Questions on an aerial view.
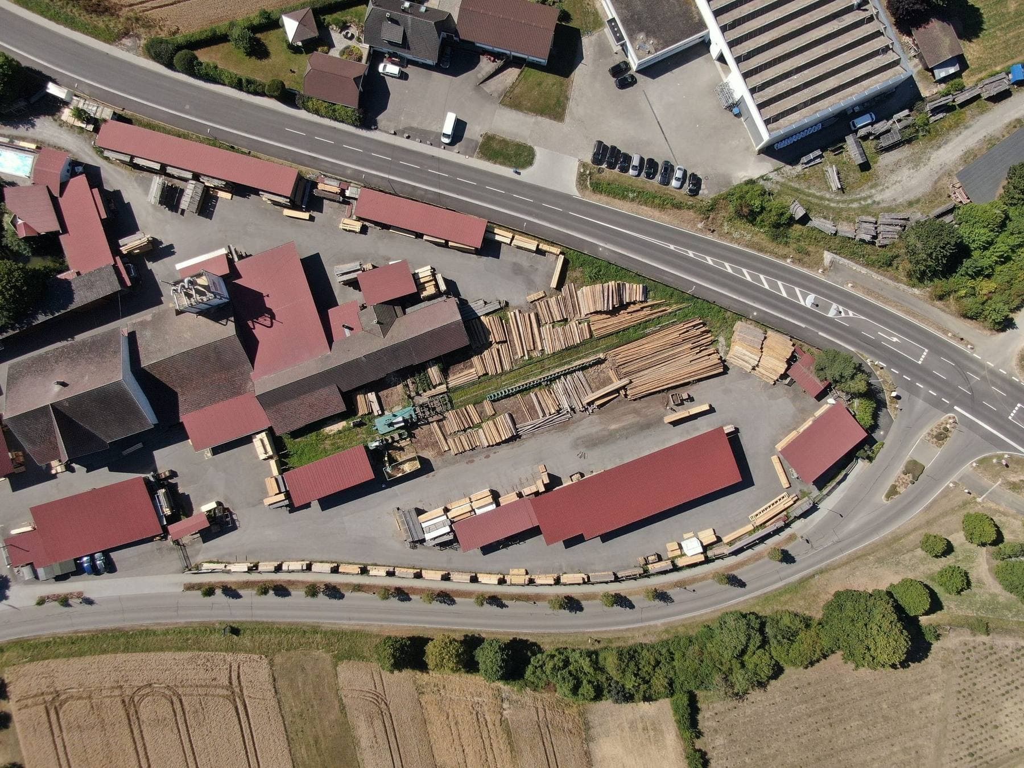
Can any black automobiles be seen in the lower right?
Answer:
No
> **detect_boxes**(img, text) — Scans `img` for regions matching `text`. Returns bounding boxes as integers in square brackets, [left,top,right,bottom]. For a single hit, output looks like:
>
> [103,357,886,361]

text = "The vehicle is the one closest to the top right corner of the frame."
[847,112,877,131]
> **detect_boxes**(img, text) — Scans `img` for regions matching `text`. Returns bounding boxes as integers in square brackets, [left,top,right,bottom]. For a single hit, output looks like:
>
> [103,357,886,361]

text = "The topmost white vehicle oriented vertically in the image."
[442,112,457,145]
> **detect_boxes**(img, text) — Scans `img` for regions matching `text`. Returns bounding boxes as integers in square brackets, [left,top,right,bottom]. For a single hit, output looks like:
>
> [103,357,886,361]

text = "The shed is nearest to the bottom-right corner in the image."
[772,401,867,484]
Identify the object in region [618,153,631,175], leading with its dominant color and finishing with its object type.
black vehicle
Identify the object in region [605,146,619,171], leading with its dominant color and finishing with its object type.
black car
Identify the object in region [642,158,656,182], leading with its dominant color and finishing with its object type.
black car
